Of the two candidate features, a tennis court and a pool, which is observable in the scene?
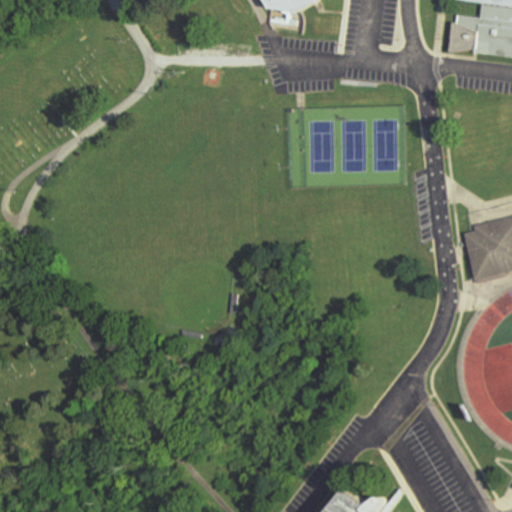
tennis court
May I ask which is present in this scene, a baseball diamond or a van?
baseball diamond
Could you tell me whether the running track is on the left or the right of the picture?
right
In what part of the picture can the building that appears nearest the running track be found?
right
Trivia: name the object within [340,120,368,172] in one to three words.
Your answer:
tennis court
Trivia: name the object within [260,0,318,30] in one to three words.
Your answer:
building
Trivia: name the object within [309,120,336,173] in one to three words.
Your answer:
tennis court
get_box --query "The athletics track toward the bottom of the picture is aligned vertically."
[457,284,512,452]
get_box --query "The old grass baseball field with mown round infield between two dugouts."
[158,250,233,334]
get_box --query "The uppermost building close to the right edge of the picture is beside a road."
[450,0,512,59]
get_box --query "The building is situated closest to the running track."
[461,214,512,282]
